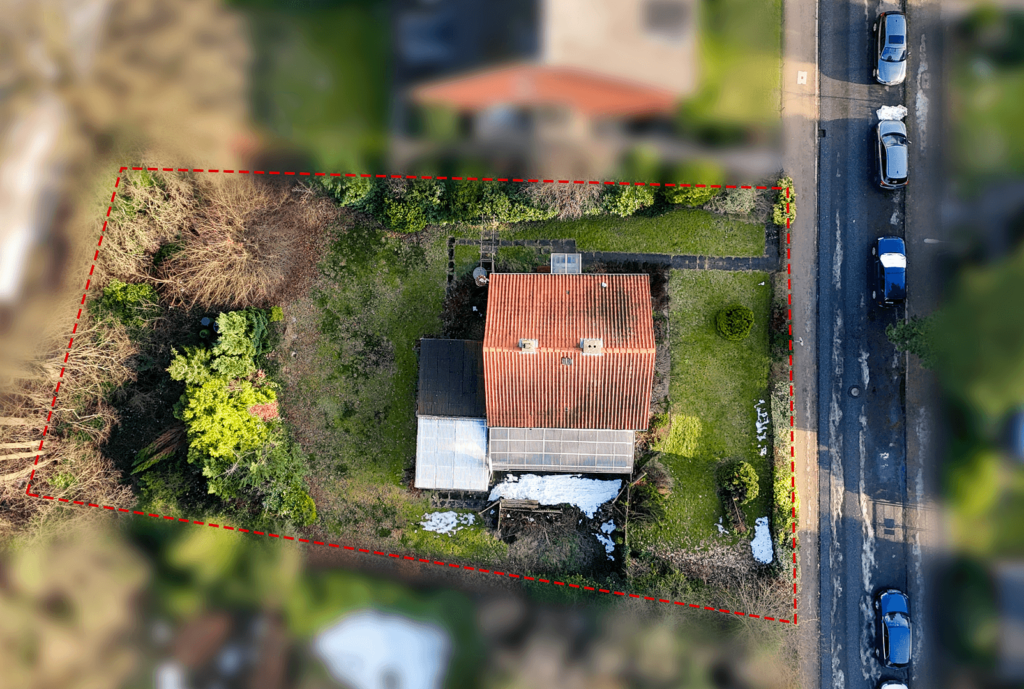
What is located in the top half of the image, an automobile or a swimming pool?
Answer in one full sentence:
There is an automobile in the top half of the image.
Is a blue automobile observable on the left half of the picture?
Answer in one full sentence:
No, no blue automobile appears on the left half of the picture.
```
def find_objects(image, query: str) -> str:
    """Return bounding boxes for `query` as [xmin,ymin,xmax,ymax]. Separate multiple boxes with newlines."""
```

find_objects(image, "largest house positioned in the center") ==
[484,253,659,473]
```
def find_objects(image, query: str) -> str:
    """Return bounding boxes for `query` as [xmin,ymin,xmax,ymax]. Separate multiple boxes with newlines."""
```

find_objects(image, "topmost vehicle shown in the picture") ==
[873,10,913,86]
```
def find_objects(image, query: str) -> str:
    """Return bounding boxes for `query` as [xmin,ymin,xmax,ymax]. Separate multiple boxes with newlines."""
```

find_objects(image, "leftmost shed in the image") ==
[174,592,251,674]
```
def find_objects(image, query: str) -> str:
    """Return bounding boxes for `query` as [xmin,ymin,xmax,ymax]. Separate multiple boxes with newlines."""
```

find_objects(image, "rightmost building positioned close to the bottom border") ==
[319,600,453,689]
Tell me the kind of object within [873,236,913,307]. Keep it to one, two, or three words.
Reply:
car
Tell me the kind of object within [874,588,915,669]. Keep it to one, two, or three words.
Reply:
car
